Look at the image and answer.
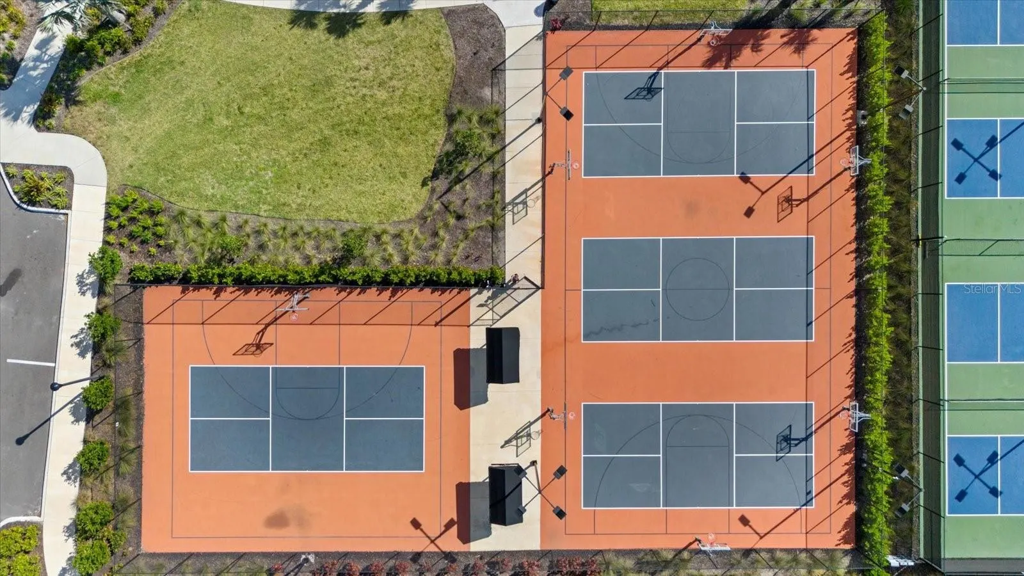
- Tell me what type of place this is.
sports ground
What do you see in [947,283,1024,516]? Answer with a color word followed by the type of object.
blue sports court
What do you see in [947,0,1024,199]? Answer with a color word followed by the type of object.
blue sports court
